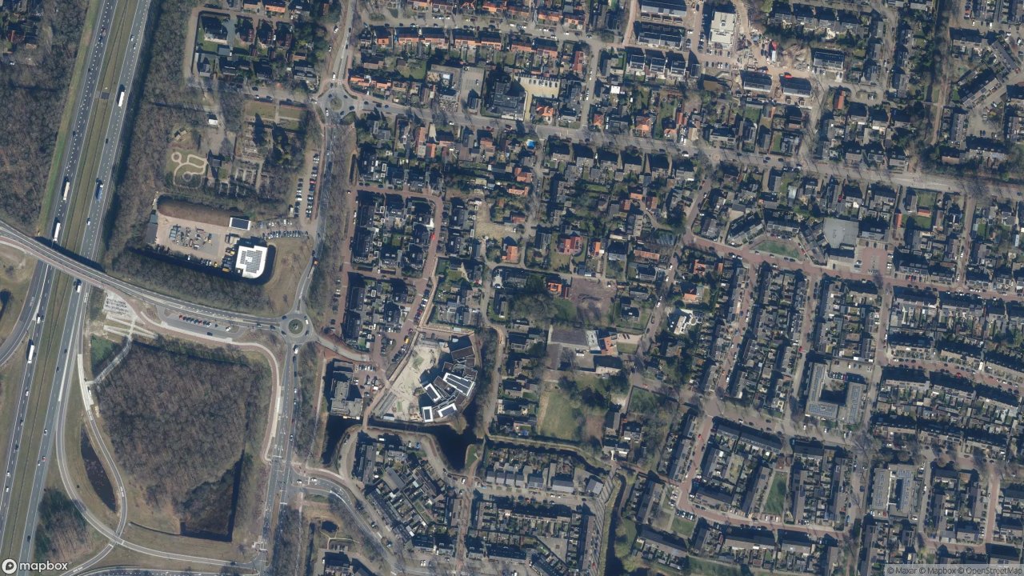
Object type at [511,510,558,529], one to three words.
house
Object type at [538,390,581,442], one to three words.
sports field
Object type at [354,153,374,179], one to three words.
house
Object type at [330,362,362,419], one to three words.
building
